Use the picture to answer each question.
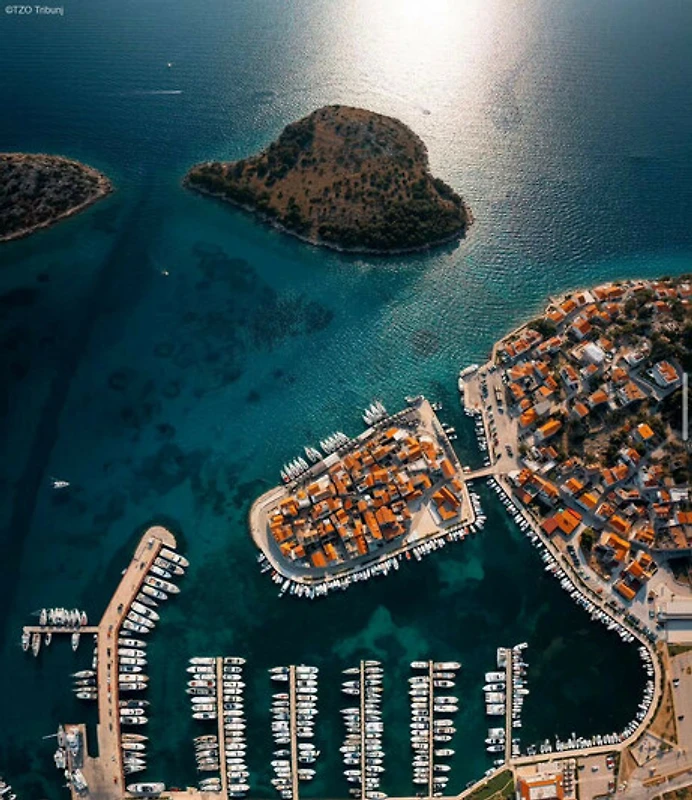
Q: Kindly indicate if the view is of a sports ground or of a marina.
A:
marina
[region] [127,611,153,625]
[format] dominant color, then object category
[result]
white boat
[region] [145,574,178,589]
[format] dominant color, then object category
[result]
white boat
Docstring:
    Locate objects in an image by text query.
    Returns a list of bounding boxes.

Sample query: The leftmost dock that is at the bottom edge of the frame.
[65,526,222,800]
